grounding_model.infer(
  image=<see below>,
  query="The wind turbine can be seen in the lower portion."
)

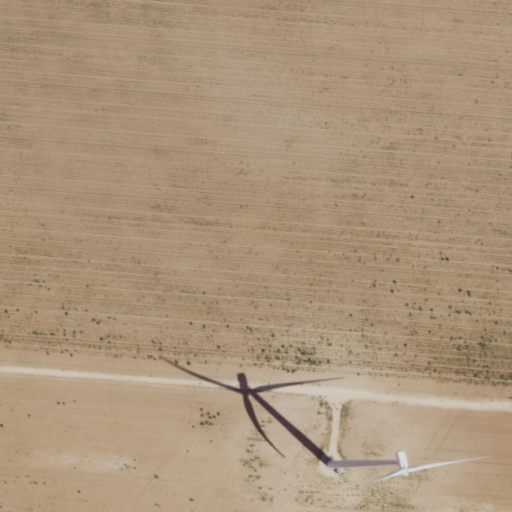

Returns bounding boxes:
[325,451,498,490]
